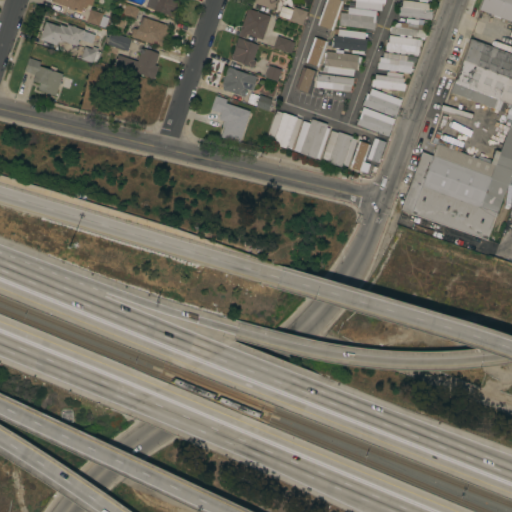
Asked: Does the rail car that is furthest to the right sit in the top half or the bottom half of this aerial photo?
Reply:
bottom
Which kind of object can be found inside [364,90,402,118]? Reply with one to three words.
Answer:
house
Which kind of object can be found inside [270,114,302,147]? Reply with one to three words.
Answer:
house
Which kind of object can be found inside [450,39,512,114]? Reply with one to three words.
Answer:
building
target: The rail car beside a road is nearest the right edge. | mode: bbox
[218,397,264,419]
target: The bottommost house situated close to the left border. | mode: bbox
[24,58,64,97]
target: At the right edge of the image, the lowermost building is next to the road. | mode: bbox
[403,128,512,241]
